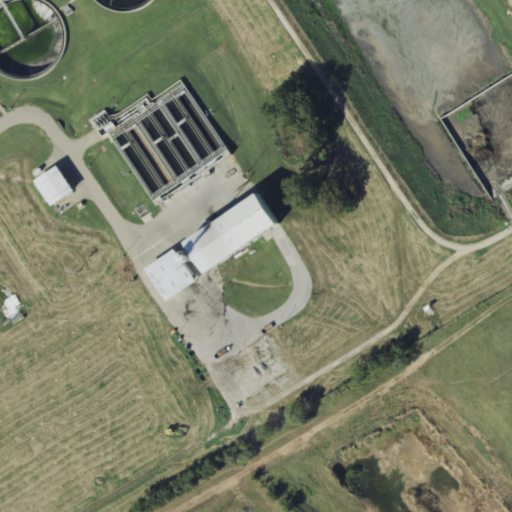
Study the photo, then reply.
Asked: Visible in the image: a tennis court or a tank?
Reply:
tank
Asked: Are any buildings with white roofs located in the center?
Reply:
Yes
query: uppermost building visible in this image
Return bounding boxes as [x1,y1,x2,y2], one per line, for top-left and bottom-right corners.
[34,166,75,206]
